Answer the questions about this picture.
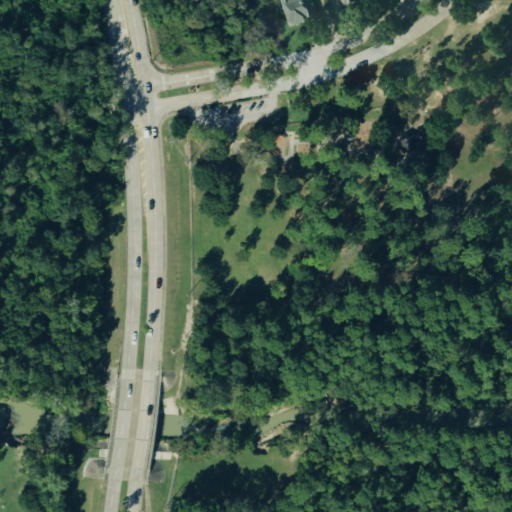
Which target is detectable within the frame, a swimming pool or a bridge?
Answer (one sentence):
I can see a bridge in this picture.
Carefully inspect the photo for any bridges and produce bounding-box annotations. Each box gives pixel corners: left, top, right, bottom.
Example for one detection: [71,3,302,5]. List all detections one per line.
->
[104,370,162,482]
